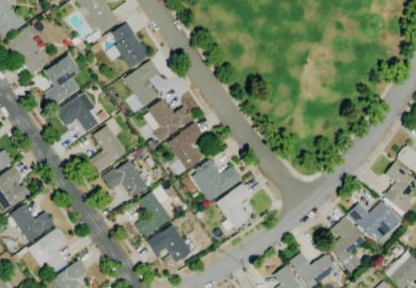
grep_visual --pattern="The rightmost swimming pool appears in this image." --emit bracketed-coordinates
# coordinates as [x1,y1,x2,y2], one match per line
[70,13,90,37]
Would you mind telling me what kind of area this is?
residential area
